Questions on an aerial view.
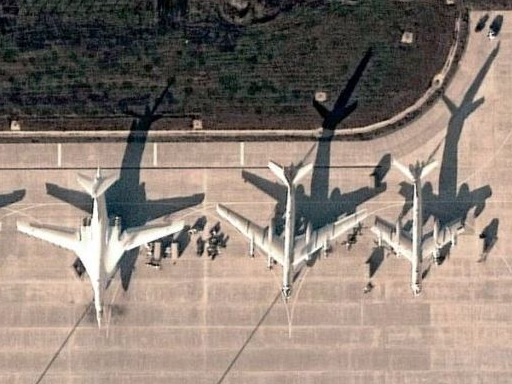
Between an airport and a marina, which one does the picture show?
airport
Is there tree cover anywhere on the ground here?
No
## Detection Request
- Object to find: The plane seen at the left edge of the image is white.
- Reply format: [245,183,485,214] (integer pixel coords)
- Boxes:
[19,167,180,329]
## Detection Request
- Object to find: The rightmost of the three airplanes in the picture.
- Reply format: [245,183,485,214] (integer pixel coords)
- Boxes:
[370,155,462,299]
